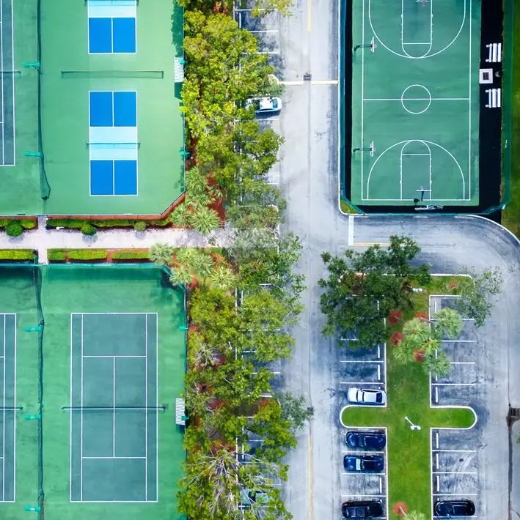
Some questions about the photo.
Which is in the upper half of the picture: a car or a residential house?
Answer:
car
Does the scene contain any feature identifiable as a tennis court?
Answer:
Yes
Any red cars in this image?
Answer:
No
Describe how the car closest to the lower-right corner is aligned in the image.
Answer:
from left to right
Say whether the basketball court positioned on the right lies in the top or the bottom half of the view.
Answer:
top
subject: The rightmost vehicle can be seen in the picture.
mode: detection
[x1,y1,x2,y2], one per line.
[433,498,474,519]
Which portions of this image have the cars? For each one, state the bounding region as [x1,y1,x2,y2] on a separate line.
[342,498,383,519]
[346,387,385,405]
[342,455,383,473]
[247,96,284,113]
[433,498,474,519]
[345,431,385,450]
